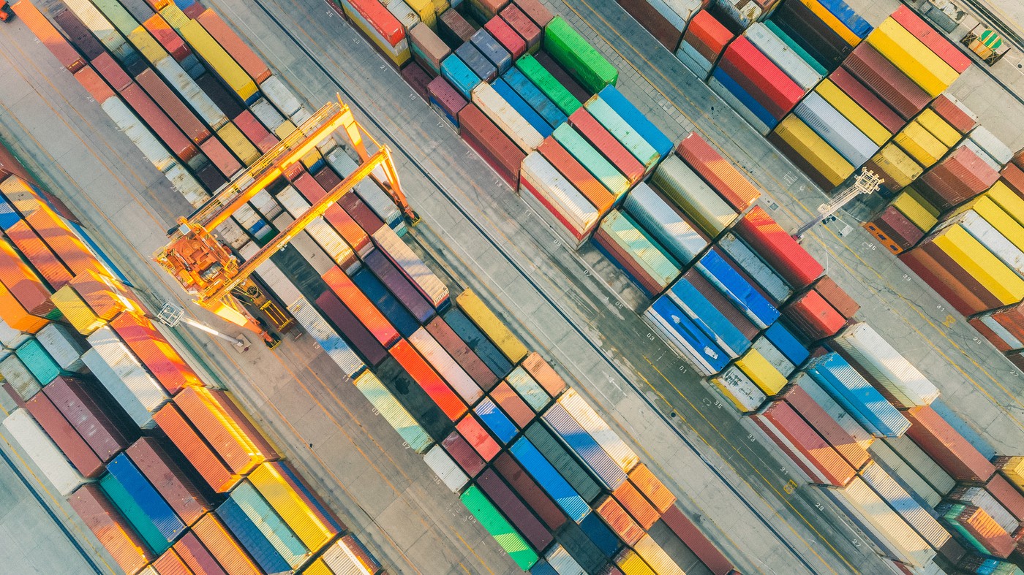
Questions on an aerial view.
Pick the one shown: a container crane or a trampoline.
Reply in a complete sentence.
Looking from above, you can make out a container crane.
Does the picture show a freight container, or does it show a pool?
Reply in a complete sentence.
Of the two, only a freight container appears.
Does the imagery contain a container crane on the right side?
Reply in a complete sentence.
No, I can find no container crane on the right side.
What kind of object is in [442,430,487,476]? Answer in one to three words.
shipping container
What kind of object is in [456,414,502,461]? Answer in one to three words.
shipping container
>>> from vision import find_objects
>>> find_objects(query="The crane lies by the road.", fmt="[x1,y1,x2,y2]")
[126,70,426,356]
